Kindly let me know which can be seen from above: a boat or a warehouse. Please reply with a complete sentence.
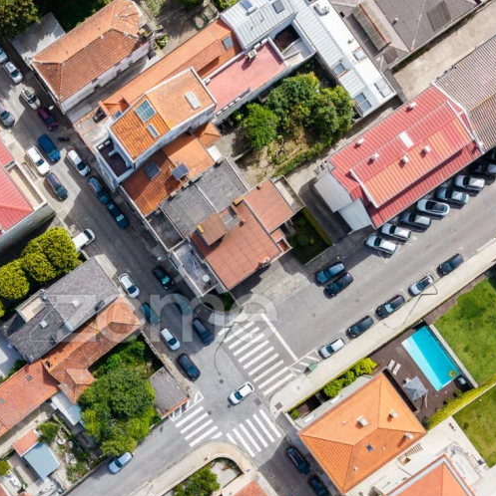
It is a warehouse that can be seen here.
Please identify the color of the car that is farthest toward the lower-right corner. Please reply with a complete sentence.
In this view, the car that is farthest toward the lower-right corner is black.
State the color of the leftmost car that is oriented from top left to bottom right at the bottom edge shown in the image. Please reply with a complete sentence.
The leftmost car that is oriented from top left to bottom right at the bottom edge is black.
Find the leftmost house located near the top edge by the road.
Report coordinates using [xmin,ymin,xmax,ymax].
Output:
[32,0,152,108]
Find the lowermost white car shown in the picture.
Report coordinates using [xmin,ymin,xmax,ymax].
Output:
[227,381,256,405]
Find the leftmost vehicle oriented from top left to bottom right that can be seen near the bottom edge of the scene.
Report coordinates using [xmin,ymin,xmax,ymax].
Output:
[284,444,311,477]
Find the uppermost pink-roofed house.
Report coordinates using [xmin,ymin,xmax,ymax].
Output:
[204,38,289,124]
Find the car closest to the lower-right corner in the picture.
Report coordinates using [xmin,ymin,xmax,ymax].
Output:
[307,473,330,496]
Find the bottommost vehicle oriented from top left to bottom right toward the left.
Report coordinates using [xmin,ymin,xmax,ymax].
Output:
[176,351,202,383]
